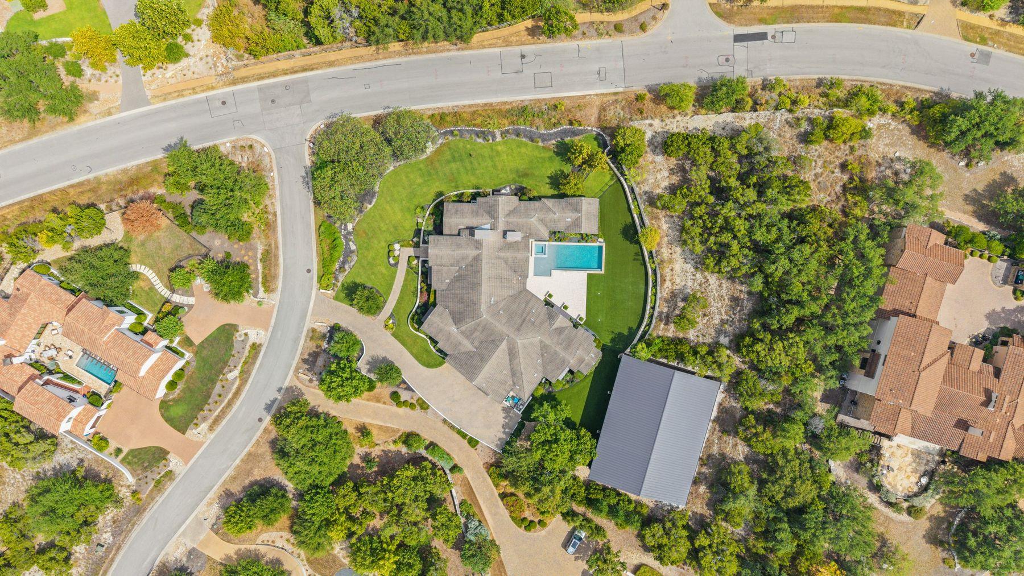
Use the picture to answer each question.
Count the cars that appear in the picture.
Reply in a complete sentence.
My tally gives 1 car in this photo.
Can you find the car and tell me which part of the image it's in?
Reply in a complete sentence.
The car is in the bottom part of the image.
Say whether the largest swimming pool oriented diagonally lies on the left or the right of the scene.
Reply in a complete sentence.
The largest swimming pool oriented diagonally appears in the left half of the scene.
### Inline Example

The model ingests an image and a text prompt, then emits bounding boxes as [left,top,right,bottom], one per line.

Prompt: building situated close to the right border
[858,224,1024,462]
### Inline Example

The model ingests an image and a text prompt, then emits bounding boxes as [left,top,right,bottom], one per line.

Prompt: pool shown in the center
[529,241,606,279]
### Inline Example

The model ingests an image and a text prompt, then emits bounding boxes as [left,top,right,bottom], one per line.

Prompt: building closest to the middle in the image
[421,197,602,404]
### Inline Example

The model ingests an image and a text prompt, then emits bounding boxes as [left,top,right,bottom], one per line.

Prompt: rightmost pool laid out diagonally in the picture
[74,353,117,388]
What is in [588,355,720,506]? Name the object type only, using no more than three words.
barn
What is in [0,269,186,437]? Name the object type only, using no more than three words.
house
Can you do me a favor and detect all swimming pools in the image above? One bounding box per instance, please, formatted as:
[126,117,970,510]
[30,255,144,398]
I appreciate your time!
[529,241,606,279]
[74,353,117,388]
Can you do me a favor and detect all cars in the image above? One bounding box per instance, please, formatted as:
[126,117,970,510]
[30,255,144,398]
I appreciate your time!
[566,531,587,559]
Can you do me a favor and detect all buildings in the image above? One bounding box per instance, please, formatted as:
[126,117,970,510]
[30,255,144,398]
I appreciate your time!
[858,224,1024,462]
[0,269,186,437]
[588,355,720,506]
[421,197,602,404]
